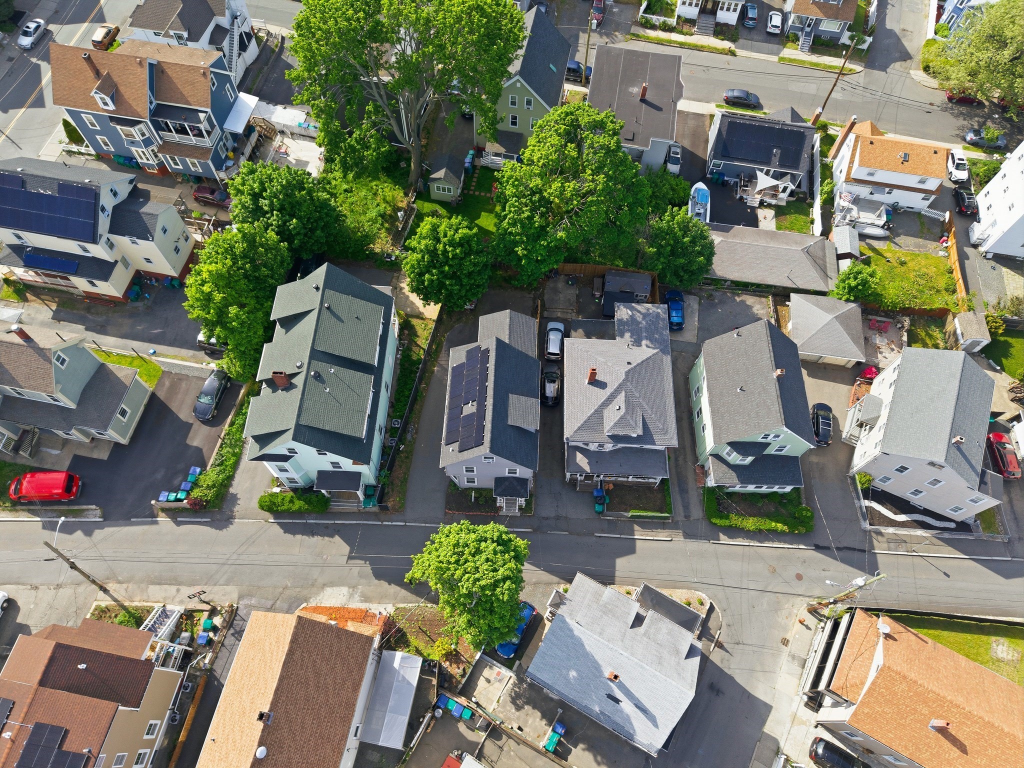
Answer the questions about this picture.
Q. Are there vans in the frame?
Yes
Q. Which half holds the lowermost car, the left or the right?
right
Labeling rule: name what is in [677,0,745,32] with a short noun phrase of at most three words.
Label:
house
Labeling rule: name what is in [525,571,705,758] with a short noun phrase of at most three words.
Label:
house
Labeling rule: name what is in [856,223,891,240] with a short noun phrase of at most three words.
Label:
boat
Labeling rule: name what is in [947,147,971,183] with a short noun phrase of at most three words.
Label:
car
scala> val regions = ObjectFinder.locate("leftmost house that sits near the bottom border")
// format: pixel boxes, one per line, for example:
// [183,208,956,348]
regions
[0,602,184,768]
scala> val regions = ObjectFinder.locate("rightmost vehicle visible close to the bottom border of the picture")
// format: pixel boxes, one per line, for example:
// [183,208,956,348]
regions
[806,734,874,768]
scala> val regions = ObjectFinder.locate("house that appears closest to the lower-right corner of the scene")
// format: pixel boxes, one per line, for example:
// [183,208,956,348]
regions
[797,609,1024,768]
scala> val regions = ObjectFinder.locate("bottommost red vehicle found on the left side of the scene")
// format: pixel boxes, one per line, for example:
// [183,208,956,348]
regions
[8,468,81,499]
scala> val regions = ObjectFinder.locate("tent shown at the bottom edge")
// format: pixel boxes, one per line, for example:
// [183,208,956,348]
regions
[359,650,425,750]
